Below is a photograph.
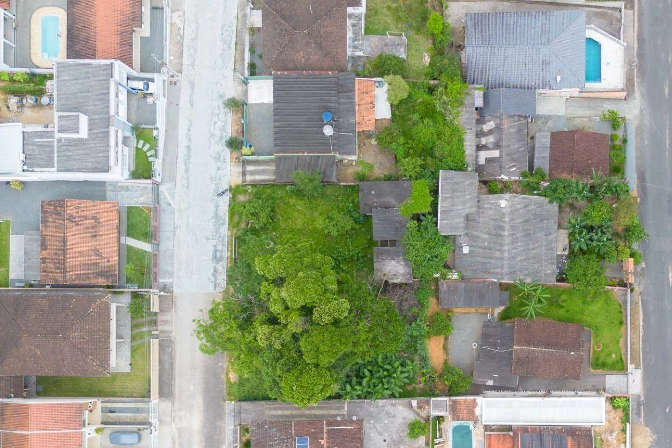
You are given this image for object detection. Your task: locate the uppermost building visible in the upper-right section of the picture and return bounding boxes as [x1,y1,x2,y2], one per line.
[464,10,586,98]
